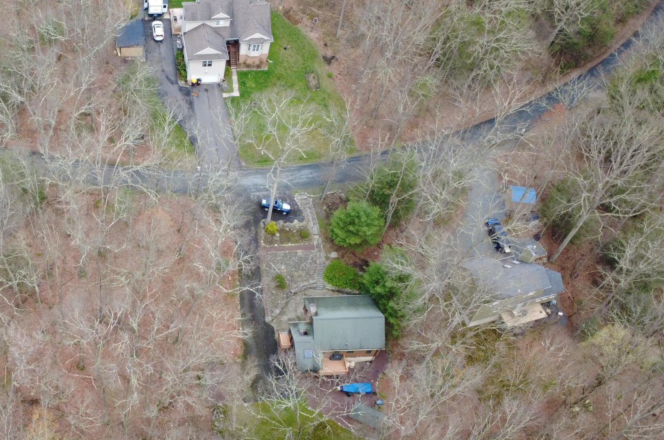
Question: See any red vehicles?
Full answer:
No, no red vehicle can be seen from above.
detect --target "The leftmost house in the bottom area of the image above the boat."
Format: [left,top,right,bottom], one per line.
[278,295,385,379]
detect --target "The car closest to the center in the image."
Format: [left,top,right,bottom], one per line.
[260,196,293,215]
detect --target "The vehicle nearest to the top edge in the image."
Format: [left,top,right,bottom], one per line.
[143,0,168,15]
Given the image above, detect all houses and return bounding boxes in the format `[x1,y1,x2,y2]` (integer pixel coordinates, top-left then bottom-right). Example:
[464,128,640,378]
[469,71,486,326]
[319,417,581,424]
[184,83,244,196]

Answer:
[278,295,385,379]
[453,252,565,332]
[169,0,275,82]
